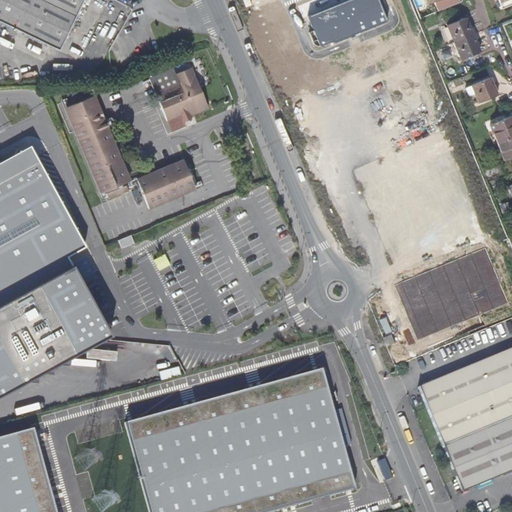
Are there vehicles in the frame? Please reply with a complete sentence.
Yes, the frame does contain a vehicle.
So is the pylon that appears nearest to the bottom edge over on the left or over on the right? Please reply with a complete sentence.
The pylon that appears nearest to the bottom edge is on the left side of the image.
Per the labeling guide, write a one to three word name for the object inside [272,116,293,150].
vehicle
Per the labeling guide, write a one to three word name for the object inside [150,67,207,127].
building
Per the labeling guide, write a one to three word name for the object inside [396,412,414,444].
vehicle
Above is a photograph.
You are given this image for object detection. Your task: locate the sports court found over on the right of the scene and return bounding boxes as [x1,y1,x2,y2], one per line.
[396,248,507,338]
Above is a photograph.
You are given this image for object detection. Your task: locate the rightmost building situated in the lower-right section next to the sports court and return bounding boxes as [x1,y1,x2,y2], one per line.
[417,346,512,490]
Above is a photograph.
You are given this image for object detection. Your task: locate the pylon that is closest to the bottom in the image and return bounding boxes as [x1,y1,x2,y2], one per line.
[90,488,118,512]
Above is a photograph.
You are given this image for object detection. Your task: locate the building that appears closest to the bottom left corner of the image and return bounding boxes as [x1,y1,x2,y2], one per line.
[0,428,57,512]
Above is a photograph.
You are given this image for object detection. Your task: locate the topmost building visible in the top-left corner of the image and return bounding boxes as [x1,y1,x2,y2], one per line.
[0,0,84,50]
